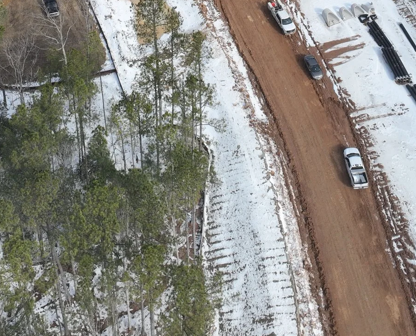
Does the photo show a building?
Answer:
No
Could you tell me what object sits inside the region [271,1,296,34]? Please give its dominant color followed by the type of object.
white truck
